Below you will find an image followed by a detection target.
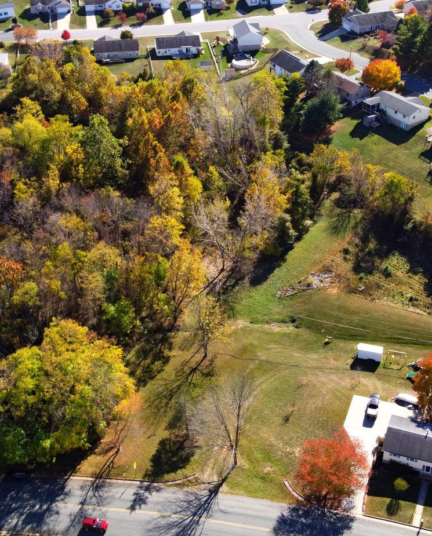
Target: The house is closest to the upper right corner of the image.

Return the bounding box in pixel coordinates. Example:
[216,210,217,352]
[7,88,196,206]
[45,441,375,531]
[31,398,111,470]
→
[392,0,432,21]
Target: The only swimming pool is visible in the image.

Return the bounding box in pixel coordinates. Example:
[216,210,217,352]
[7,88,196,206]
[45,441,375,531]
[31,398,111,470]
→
[224,50,254,67]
